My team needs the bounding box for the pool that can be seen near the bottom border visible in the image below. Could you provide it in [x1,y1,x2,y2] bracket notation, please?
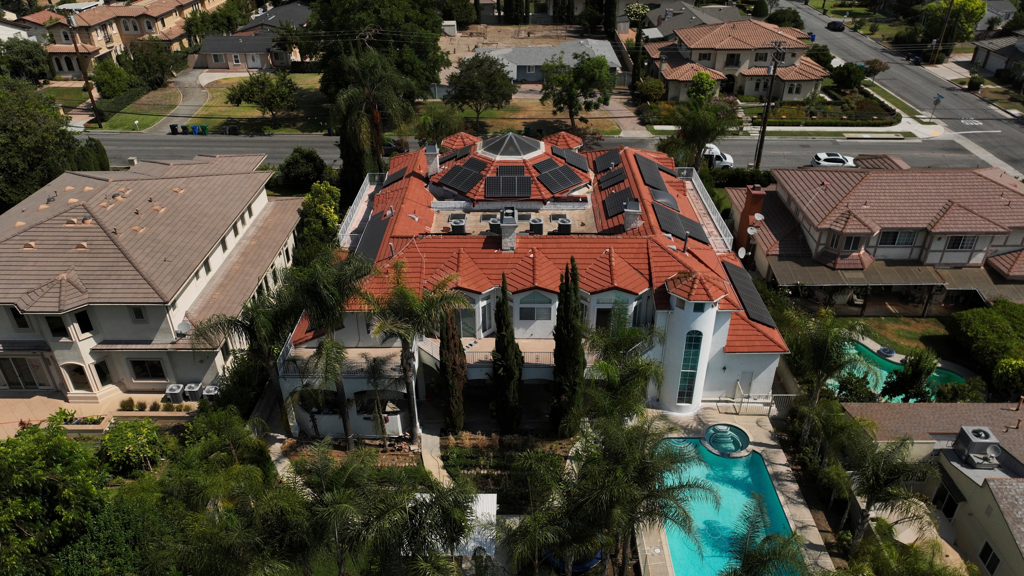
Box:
[638,434,818,576]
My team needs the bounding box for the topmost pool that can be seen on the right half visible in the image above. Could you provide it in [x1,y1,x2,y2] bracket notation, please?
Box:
[834,341,957,403]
